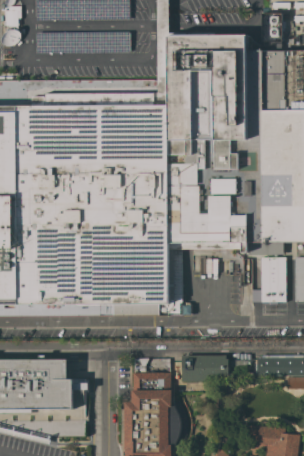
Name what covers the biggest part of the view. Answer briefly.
buildings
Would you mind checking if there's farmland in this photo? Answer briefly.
No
